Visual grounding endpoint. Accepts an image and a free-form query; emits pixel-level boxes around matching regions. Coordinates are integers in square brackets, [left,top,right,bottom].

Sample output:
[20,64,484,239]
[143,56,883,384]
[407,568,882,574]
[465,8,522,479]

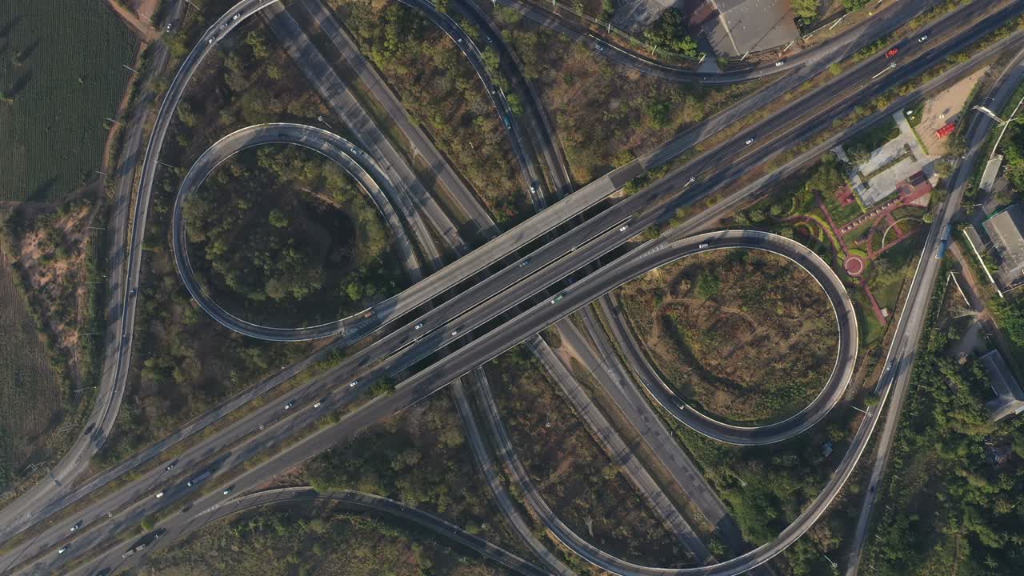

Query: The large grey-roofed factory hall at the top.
[702,0,800,59]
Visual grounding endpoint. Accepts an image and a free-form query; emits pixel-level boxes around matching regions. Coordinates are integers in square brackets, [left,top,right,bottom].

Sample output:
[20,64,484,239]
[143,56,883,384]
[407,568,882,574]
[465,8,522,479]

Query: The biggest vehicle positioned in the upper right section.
[936,122,959,137]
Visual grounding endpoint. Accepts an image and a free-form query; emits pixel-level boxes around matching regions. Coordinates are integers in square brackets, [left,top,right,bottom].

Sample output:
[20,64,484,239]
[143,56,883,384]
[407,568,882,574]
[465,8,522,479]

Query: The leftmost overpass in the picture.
[227,0,279,22]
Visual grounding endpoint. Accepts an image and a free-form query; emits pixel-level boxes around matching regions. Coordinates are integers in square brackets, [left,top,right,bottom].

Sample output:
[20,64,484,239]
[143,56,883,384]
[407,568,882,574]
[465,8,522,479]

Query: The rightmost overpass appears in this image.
[618,537,783,576]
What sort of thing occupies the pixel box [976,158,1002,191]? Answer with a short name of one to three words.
shed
